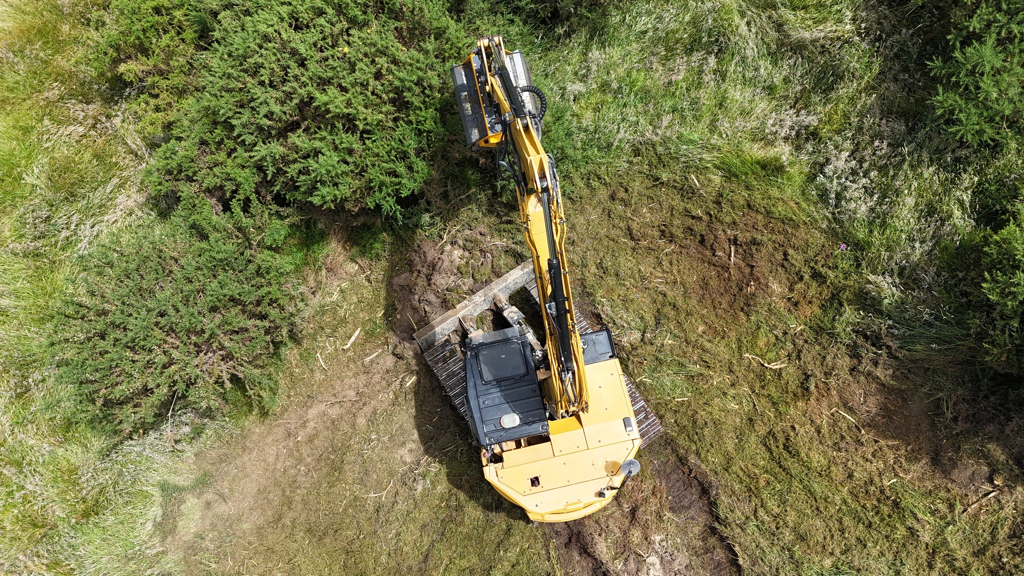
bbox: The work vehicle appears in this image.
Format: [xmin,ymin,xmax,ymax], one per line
[411,30,660,522]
